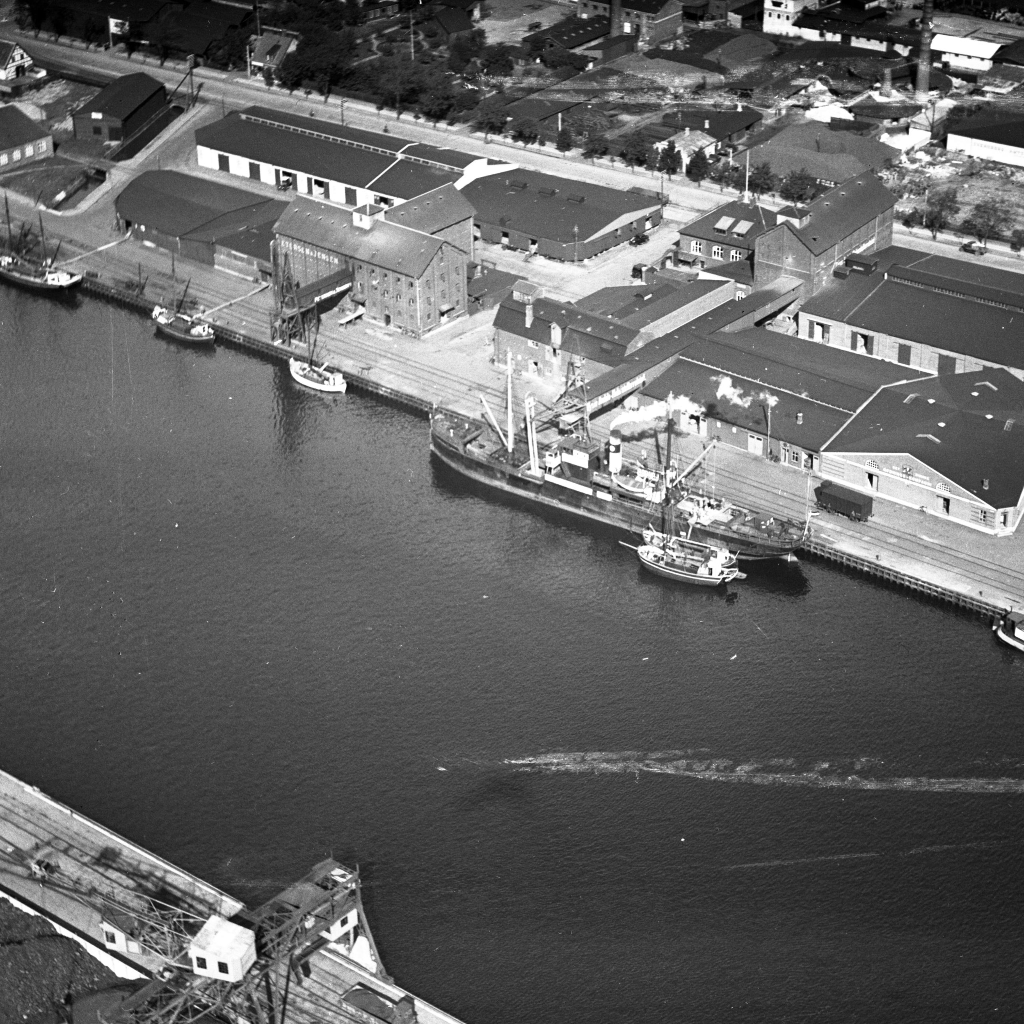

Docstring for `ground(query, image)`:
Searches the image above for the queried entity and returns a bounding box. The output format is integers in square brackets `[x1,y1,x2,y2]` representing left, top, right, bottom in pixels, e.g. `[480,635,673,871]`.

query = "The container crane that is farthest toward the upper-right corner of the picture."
[521,351,597,447]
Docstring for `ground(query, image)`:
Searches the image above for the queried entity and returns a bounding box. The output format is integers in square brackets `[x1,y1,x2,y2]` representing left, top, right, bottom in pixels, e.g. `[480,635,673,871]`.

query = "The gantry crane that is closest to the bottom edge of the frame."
[31,844,399,1024]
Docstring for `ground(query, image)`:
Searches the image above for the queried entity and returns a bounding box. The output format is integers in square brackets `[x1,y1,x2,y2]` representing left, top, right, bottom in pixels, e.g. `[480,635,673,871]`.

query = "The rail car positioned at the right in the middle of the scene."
[820,480,874,521]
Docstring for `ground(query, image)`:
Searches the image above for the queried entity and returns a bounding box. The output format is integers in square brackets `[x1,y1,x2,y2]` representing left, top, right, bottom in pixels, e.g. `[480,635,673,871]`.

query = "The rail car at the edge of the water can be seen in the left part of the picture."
[345,977,410,1024]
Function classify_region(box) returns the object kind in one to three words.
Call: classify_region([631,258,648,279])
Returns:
vehicle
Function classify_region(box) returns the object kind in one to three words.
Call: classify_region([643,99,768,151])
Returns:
shed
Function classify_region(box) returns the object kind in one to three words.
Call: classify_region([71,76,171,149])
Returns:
shed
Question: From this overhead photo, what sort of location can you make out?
port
